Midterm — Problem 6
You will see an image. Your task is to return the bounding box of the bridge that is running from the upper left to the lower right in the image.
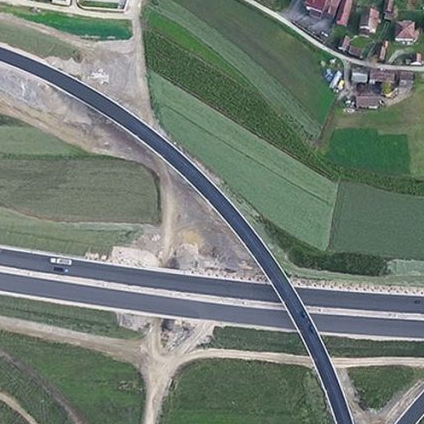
[110,107,355,424]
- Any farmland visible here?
Yes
